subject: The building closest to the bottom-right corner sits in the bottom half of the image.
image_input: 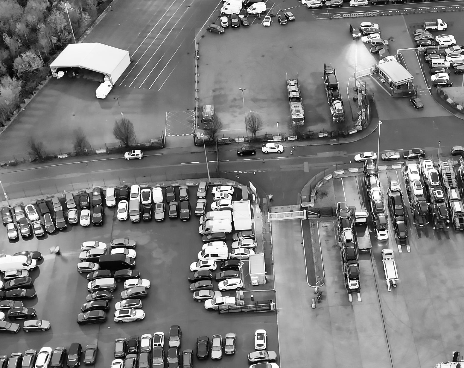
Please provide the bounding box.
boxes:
[248,248,266,283]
